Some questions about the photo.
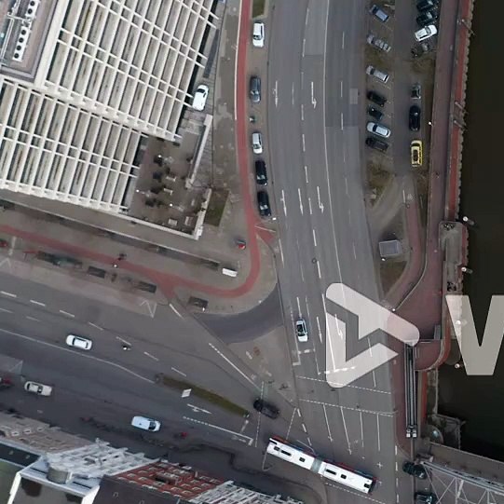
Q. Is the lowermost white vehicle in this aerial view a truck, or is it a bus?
bus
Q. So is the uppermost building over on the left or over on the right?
left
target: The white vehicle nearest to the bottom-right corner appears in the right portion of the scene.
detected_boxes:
[264,439,375,491]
